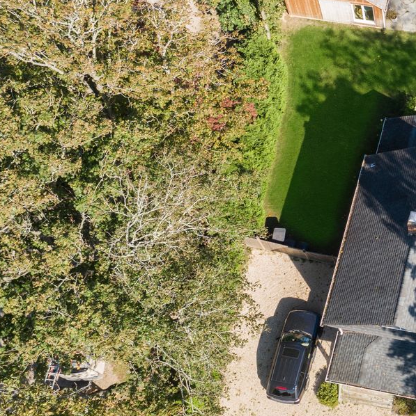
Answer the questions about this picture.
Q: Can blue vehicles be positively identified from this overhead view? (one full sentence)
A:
No, there appears to be no blue vehicle in this shot.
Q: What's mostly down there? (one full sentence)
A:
What you mostly see from above here is trees.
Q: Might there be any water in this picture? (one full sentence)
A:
No, no water is visible.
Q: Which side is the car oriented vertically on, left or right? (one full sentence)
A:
It is on the right.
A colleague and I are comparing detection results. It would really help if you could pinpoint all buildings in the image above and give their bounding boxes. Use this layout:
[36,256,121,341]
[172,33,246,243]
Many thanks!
[321,115,416,400]
[286,0,390,28]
